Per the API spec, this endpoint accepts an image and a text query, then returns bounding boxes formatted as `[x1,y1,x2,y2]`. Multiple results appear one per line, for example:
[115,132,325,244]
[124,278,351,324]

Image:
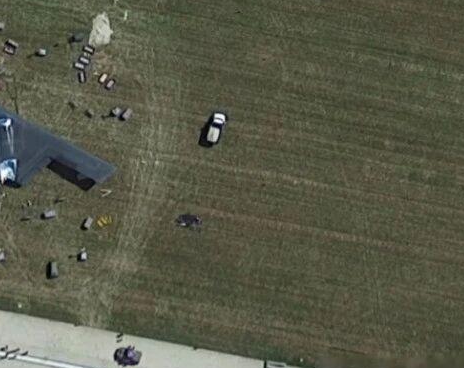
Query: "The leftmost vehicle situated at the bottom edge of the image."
[114,347,141,365]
